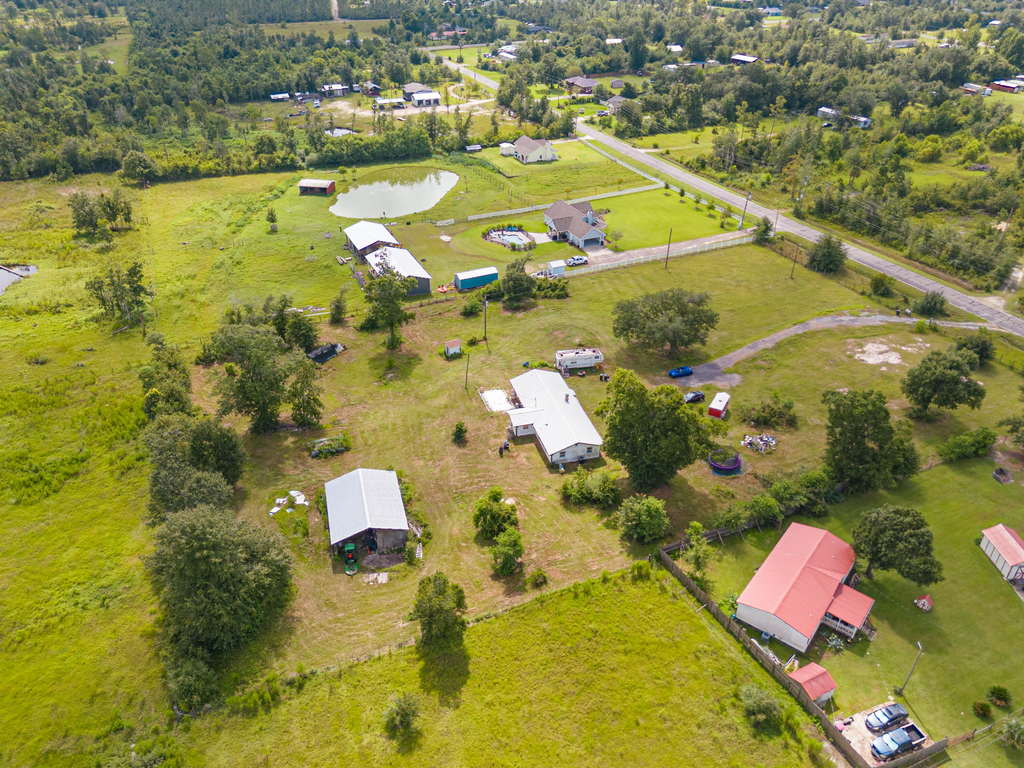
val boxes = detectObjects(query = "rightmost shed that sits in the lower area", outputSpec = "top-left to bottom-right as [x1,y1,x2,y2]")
[979,527,1024,586]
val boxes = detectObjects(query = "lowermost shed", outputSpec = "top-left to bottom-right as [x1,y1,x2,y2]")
[788,662,837,708]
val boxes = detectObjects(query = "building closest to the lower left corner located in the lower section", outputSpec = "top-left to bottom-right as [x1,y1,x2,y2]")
[325,471,409,558]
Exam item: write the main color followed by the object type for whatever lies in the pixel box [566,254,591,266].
white vehicle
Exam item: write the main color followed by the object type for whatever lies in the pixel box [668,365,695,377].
blue vehicle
